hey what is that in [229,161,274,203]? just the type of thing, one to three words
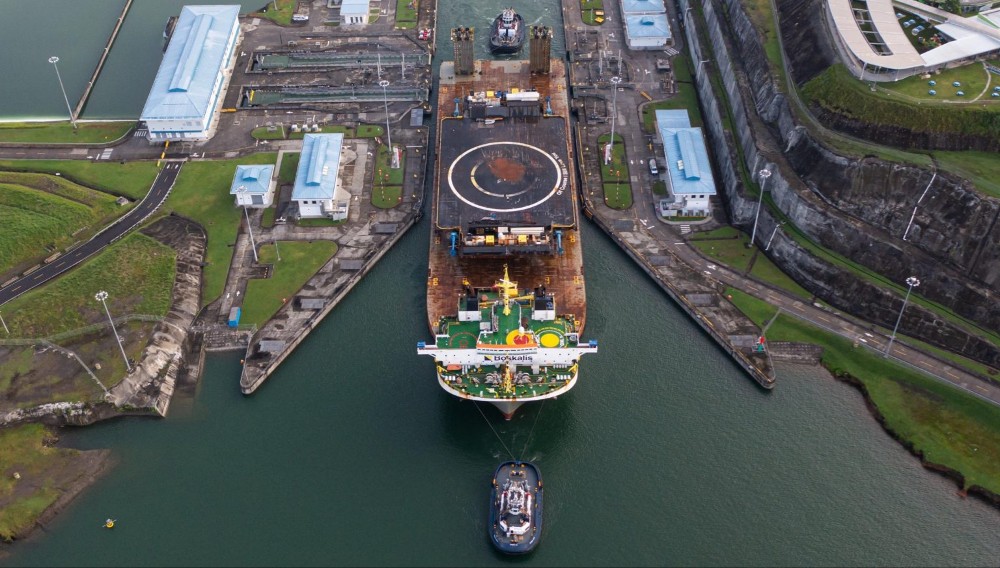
building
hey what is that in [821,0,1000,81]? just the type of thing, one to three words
building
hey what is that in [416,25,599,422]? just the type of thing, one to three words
ship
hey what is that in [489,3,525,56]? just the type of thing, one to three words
boat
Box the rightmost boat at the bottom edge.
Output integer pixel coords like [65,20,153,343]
[485,458,545,557]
